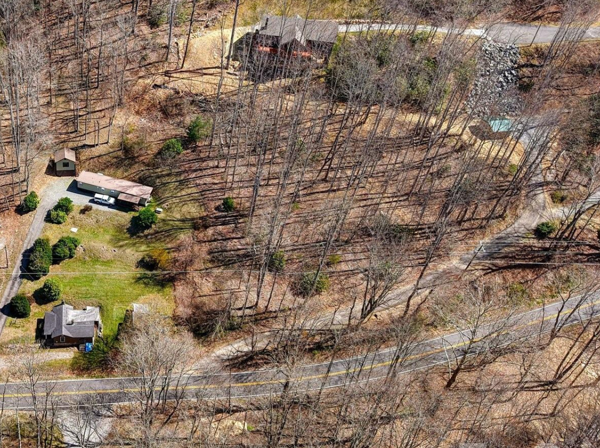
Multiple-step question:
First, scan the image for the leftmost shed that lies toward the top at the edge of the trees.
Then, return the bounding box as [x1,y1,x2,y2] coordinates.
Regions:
[54,145,80,176]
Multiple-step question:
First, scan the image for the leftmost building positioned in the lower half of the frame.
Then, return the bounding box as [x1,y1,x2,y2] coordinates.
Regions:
[42,302,101,347]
